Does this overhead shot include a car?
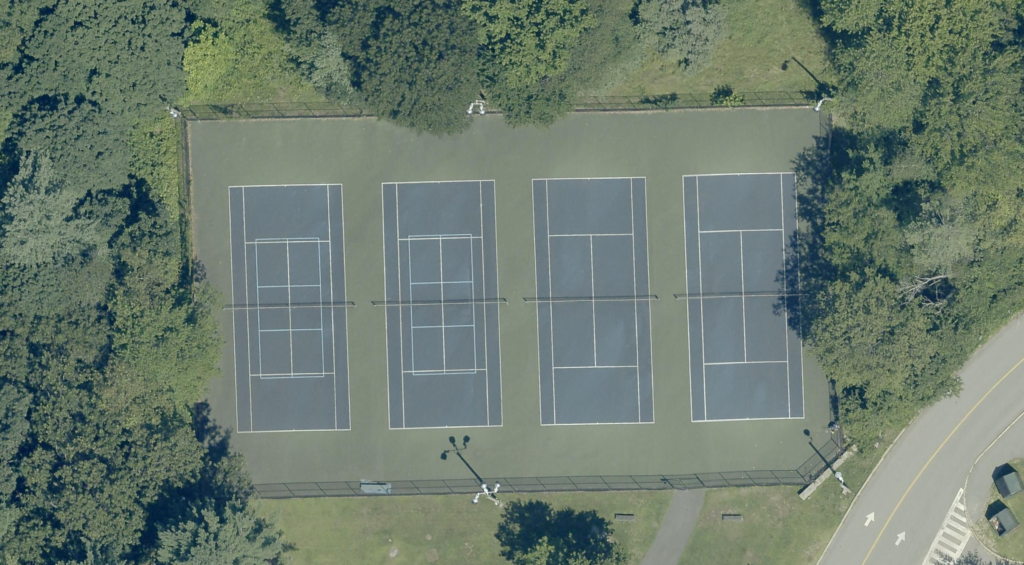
No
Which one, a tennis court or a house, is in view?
tennis court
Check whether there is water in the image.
No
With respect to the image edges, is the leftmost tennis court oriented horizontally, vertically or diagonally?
vertically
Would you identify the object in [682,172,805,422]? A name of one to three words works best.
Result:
tennis court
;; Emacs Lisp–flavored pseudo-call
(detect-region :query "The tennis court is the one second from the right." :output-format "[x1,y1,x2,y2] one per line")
[532,177,655,425]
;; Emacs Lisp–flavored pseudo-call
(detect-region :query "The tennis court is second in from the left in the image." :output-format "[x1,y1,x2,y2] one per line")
[382,180,503,429]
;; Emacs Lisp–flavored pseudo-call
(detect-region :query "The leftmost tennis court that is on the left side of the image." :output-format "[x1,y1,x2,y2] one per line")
[229,184,351,433]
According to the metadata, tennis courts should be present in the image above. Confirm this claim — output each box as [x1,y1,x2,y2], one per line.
[682,172,805,422]
[532,177,655,425]
[229,184,351,433]
[382,180,503,429]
